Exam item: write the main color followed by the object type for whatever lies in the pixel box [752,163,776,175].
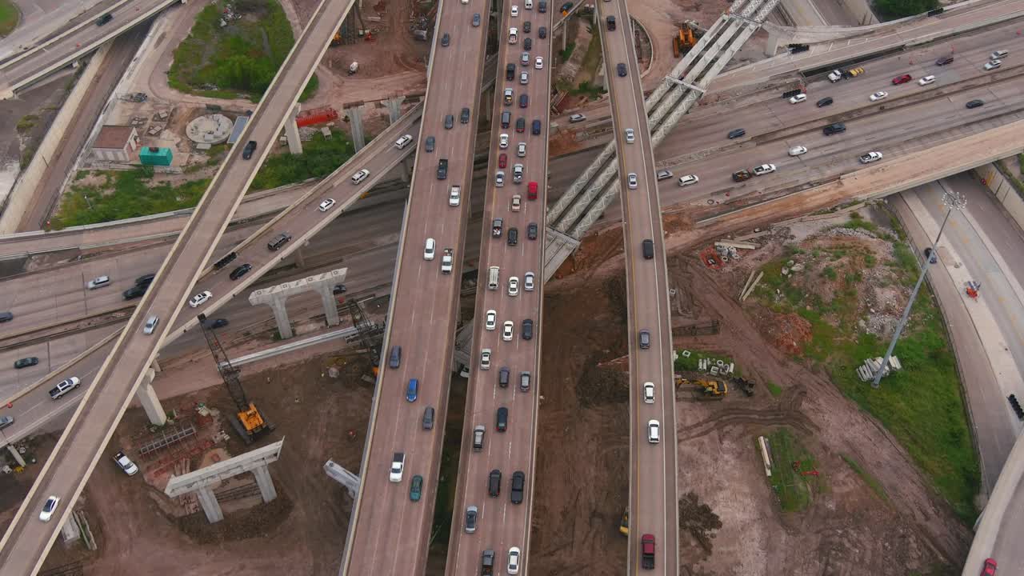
white vehicle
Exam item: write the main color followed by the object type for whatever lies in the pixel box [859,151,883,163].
white vehicle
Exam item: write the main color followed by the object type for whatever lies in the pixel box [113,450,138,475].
white truck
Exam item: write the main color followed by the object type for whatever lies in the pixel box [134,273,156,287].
black car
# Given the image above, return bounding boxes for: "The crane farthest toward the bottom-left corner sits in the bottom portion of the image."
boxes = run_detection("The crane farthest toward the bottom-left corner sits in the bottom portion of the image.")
[197,313,267,442]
